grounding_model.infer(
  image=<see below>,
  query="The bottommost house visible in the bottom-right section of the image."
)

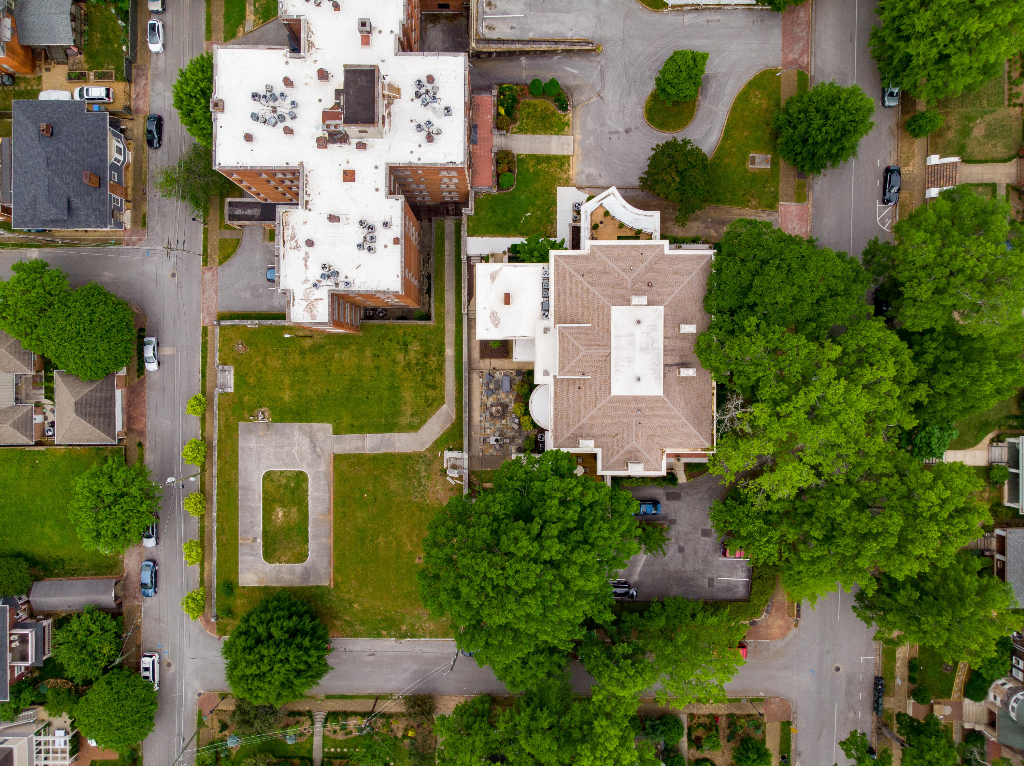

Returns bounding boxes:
[959,628,1024,751]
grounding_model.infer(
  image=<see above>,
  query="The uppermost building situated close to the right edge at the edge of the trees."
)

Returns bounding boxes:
[985,437,1024,514]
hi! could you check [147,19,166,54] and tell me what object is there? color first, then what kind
white car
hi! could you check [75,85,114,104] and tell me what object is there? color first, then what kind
white car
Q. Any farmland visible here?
No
